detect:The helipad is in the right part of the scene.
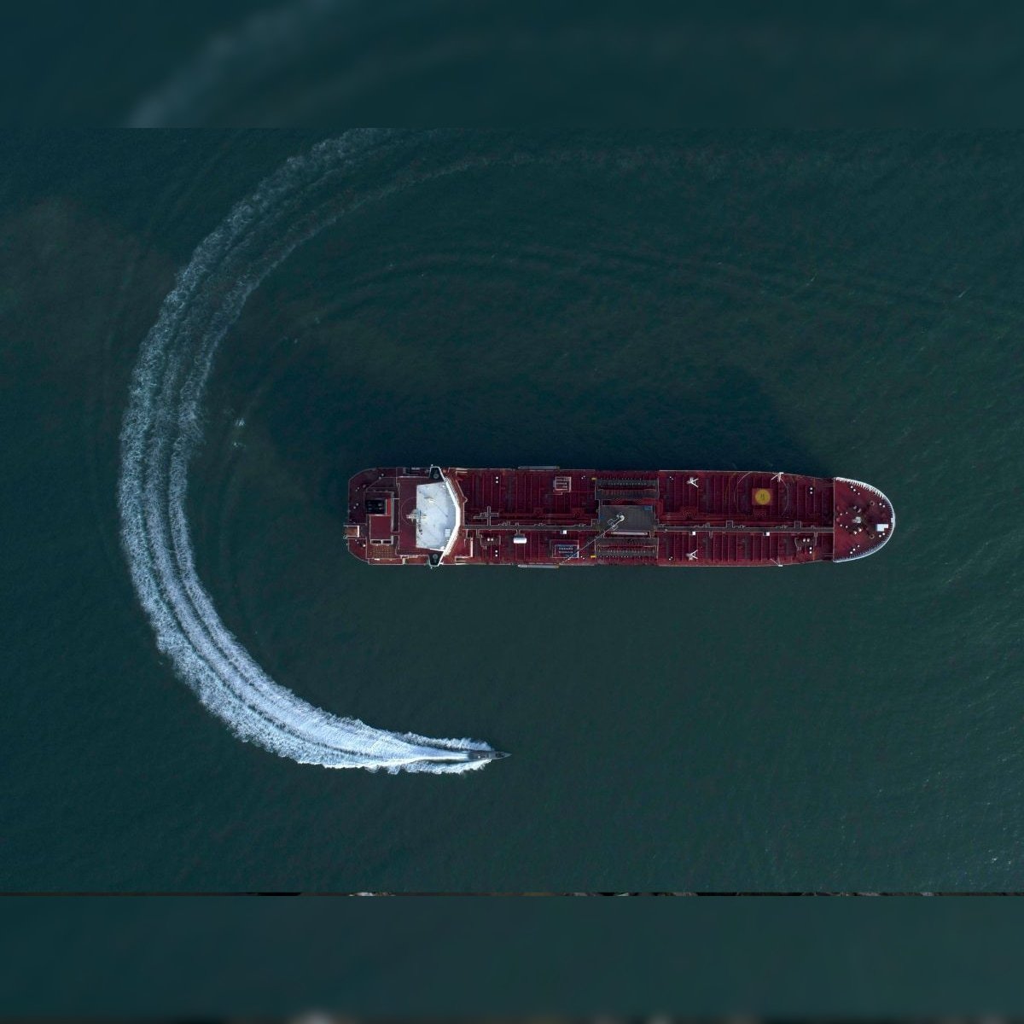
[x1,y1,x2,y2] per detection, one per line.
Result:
[736,474,788,519]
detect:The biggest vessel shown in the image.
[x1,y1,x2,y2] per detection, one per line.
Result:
[343,464,896,569]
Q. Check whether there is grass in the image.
No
